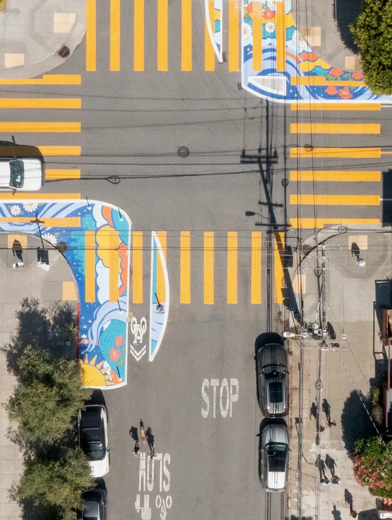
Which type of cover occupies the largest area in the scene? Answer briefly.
paved ground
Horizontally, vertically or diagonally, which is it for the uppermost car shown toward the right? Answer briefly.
vertically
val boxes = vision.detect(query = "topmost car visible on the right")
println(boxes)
[255,340,291,418]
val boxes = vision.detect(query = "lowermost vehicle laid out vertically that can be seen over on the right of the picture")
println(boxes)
[257,421,292,492]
